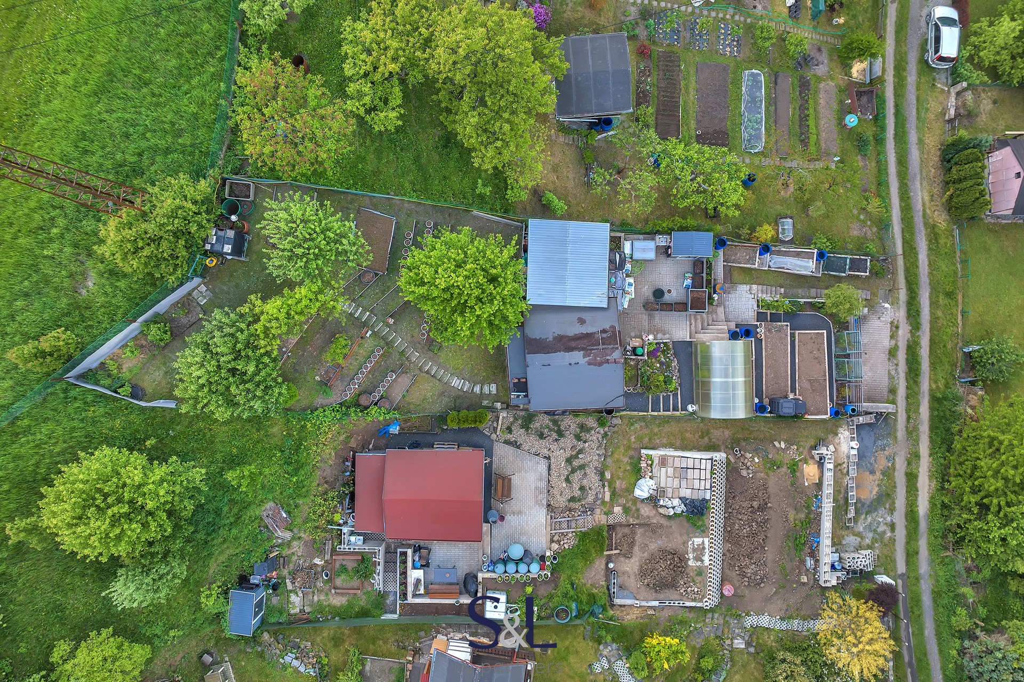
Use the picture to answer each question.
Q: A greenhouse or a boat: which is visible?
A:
greenhouse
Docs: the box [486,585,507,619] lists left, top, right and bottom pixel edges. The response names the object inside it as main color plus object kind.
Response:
white water tank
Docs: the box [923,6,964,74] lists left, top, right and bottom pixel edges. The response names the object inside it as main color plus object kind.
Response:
white car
